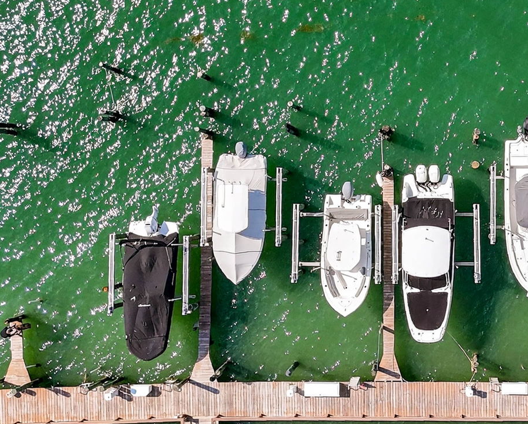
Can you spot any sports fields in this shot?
No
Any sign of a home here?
No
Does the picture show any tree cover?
No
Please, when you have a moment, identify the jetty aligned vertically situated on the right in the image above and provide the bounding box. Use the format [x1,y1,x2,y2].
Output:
[375,180,402,382]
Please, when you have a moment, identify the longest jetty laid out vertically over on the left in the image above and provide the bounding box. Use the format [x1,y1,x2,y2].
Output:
[191,139,219,383]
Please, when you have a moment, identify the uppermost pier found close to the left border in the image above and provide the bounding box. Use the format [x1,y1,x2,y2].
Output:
[5,335,34,388]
